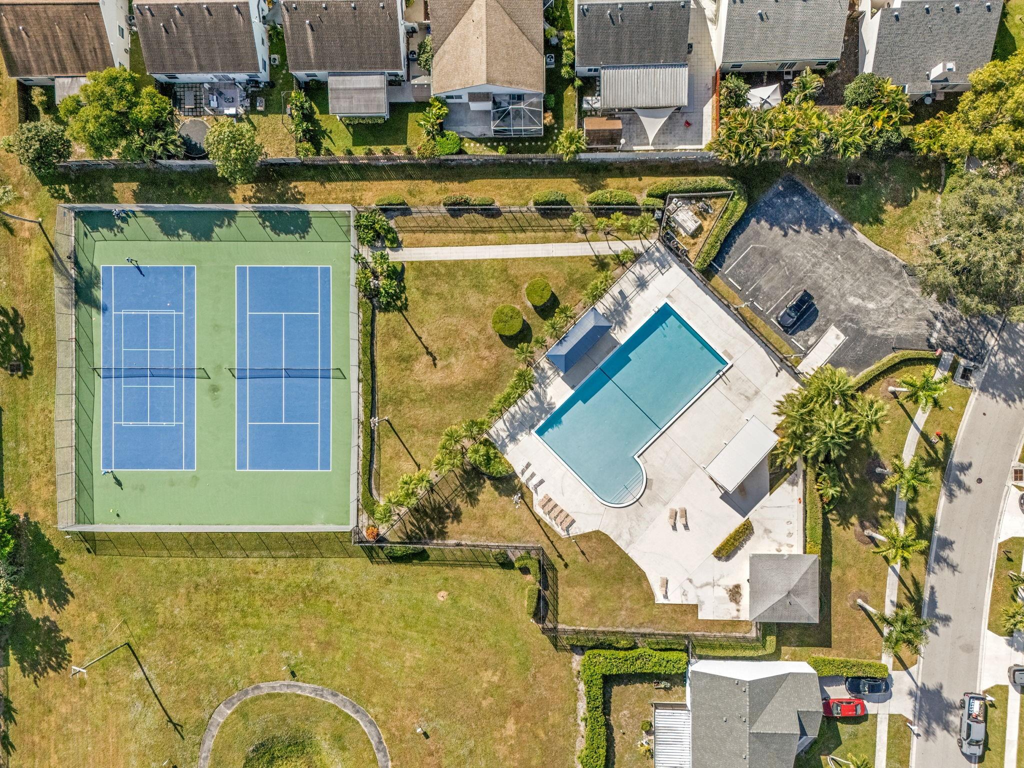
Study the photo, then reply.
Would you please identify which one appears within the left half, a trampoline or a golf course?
trampoline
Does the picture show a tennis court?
Yes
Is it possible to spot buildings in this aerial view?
Yes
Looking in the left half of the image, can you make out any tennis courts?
Yes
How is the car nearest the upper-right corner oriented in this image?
on a diagonal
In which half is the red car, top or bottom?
bottom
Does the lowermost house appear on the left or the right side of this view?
right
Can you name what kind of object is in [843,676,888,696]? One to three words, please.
car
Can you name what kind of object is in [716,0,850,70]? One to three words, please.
house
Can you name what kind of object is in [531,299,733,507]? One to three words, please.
swimming pool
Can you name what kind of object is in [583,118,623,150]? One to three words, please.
shed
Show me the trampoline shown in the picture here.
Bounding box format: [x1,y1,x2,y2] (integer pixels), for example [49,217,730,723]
[178,121,211,155]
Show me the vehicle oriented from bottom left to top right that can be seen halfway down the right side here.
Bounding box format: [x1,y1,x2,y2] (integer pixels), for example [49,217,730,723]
[779,289,815,330]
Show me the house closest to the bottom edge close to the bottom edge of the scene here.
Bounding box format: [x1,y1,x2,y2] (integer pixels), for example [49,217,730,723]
[688,662,823,768]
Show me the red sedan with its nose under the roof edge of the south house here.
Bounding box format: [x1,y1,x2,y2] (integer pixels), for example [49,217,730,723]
[821,696,862,717]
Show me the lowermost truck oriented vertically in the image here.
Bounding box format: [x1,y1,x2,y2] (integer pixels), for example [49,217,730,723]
[961,693,989,753]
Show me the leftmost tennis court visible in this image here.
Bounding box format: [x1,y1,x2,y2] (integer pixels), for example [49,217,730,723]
[75,211,215,525]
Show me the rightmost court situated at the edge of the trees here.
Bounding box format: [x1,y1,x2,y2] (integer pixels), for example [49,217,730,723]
[215,211,357,525]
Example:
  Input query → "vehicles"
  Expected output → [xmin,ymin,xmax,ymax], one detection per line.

[821,696,862,717]
[843,676,888,696]
[1005,664,1024,685]
[779,289,815,330]
[961,693,989,753]
[1017,494,1024,510]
